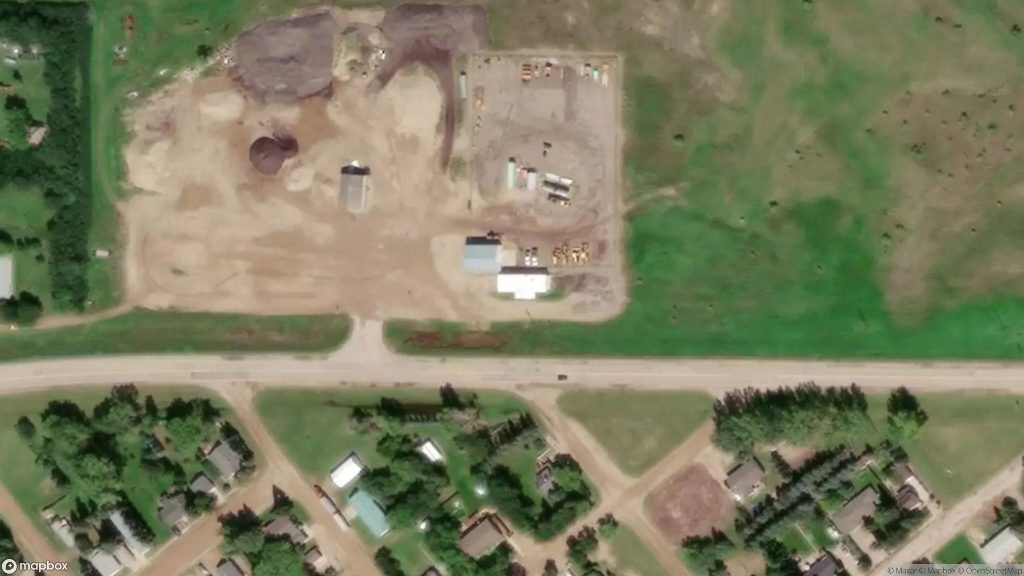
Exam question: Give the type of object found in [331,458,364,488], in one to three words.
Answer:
shed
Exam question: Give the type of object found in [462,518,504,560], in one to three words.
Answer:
house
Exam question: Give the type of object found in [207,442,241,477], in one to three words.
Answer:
house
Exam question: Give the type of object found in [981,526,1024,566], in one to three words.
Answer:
shed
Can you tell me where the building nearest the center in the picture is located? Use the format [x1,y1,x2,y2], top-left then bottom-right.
[497,274,550,298]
